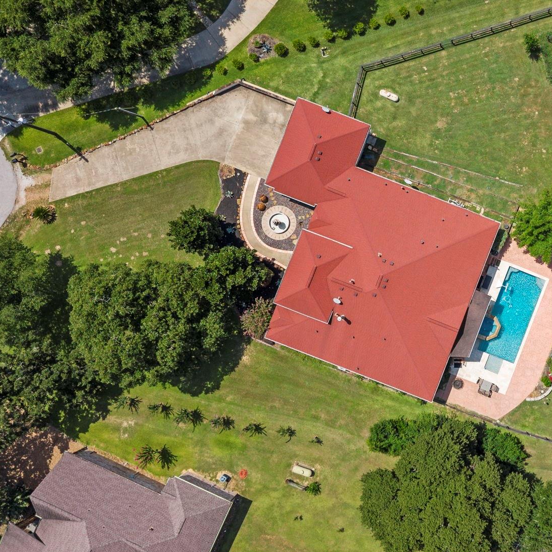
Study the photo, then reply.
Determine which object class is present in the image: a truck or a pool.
pool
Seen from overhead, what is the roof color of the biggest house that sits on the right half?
red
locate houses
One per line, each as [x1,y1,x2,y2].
[264,97,501,403]
[0,450,236,552]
